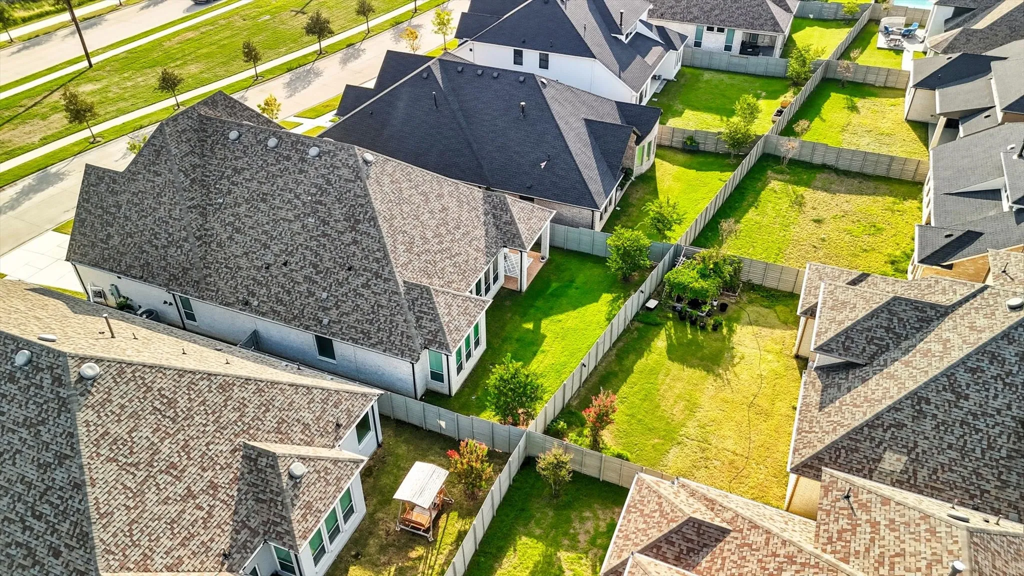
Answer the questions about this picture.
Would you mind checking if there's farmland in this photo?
No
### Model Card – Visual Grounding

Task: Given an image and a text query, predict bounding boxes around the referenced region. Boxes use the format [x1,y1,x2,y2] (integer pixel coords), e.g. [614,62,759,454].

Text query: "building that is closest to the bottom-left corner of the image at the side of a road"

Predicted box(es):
[0,279,391,576]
